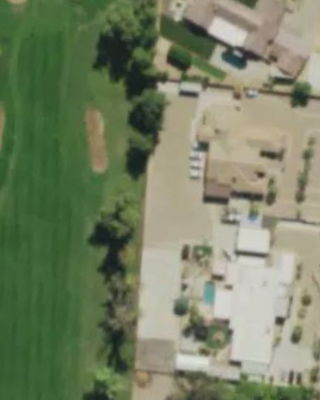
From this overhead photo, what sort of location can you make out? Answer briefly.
golf course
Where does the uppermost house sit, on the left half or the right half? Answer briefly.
right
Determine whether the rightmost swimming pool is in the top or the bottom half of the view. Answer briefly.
top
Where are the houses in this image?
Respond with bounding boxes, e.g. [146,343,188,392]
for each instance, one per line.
[185,0,310,79]
[197,125,287,201]
[213,253,296,373]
